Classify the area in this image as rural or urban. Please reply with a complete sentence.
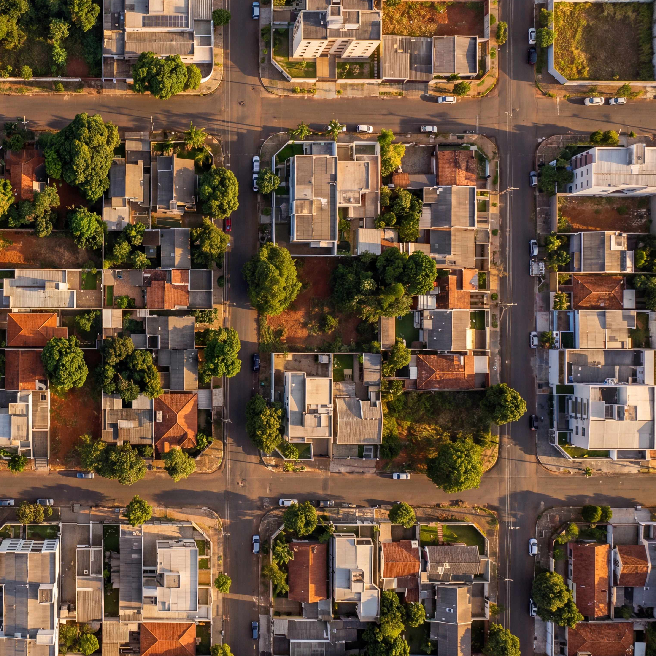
From above, the setting appears urban.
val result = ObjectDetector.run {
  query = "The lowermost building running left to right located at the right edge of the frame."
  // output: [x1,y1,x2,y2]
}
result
[562,620,646,656]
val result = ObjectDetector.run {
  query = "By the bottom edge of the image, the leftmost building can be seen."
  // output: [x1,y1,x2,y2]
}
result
[0,540,59,656]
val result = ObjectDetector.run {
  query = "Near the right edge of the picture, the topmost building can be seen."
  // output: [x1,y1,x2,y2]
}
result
[576,144,656,192]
